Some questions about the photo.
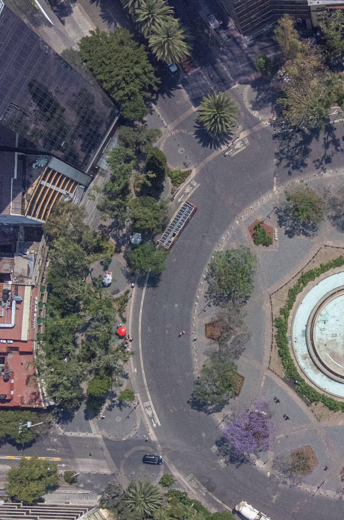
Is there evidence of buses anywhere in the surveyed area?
Yes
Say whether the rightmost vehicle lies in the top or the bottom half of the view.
bottom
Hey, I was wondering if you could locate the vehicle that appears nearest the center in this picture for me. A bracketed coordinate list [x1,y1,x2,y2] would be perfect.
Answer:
[158,199,198,252]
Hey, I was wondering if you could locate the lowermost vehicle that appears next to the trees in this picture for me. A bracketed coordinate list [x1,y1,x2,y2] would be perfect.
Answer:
[229,500,276,520]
